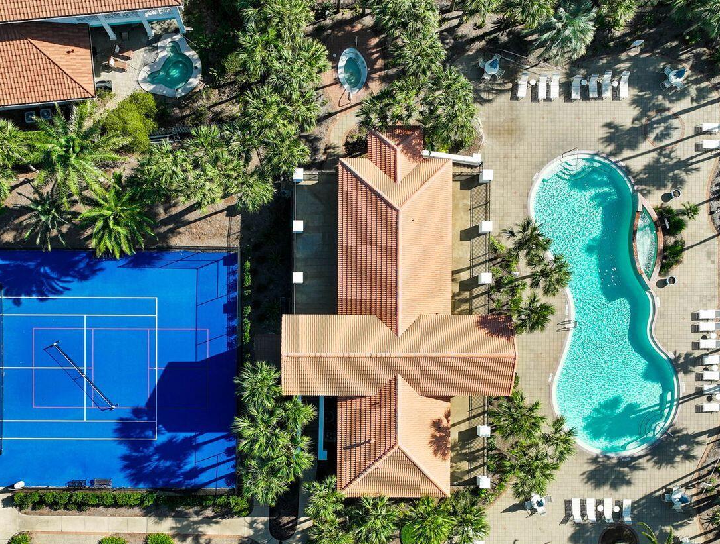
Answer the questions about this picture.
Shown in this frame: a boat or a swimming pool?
swimming pool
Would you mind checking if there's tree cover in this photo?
Yes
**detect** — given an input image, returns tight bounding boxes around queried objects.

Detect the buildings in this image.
[281,124,524,500]
[0,0,189,111]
